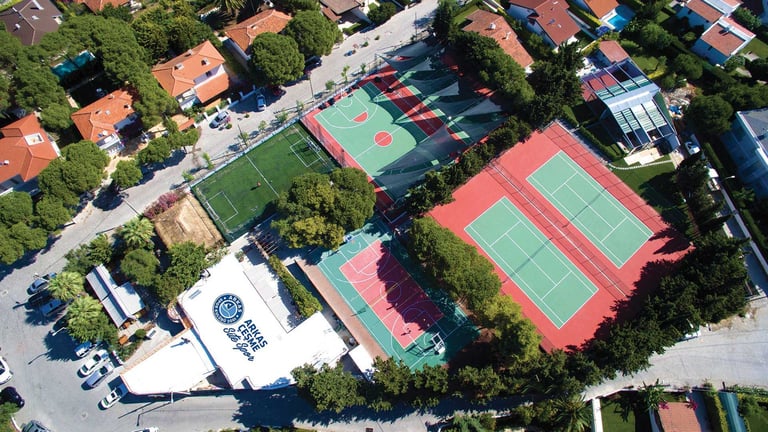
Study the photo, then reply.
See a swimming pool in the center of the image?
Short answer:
No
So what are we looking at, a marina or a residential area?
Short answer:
residential area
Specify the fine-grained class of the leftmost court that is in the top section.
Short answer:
basketball court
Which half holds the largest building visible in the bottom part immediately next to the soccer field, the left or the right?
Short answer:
left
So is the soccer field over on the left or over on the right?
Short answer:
left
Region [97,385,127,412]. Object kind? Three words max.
car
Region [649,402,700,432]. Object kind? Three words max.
house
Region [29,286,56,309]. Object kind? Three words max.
car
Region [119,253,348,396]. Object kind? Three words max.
building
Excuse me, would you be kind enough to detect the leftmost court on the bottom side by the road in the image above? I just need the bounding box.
[307,209,478,388]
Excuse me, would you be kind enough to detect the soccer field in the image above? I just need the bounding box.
[189,119,338,236]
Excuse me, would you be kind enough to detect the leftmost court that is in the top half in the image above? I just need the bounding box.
[302,40,510,214]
